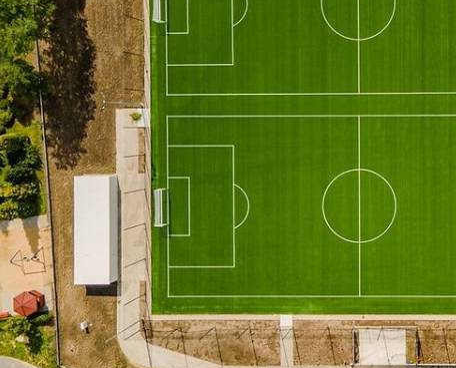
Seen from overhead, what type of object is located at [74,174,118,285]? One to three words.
building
